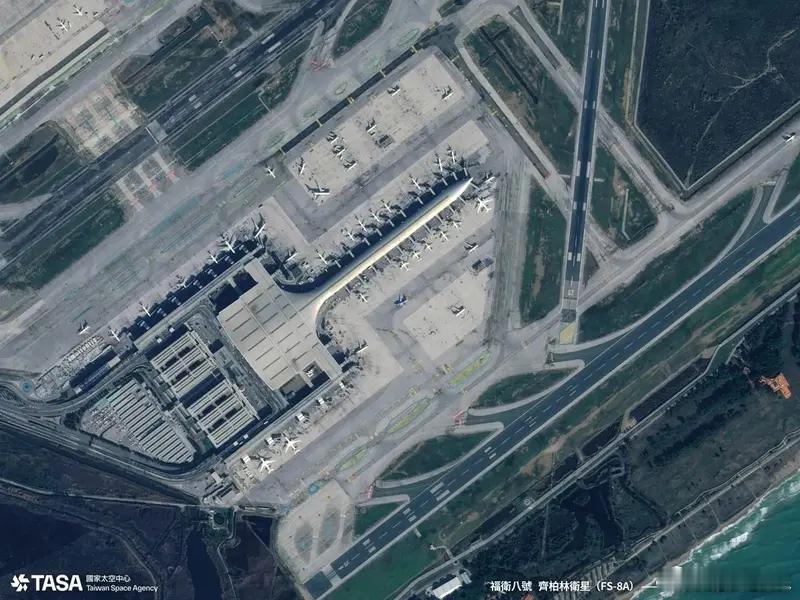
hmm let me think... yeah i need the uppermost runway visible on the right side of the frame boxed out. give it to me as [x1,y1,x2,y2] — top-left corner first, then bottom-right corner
[559,0,609,345]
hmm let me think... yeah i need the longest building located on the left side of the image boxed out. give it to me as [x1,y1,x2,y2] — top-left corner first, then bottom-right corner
[133,177,473,467]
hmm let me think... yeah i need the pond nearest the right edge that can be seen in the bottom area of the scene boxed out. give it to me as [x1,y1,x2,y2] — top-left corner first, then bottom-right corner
[552,485,626,555]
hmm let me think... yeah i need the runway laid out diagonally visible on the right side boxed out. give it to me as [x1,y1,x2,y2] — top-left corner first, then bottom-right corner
[299,196,800,600]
